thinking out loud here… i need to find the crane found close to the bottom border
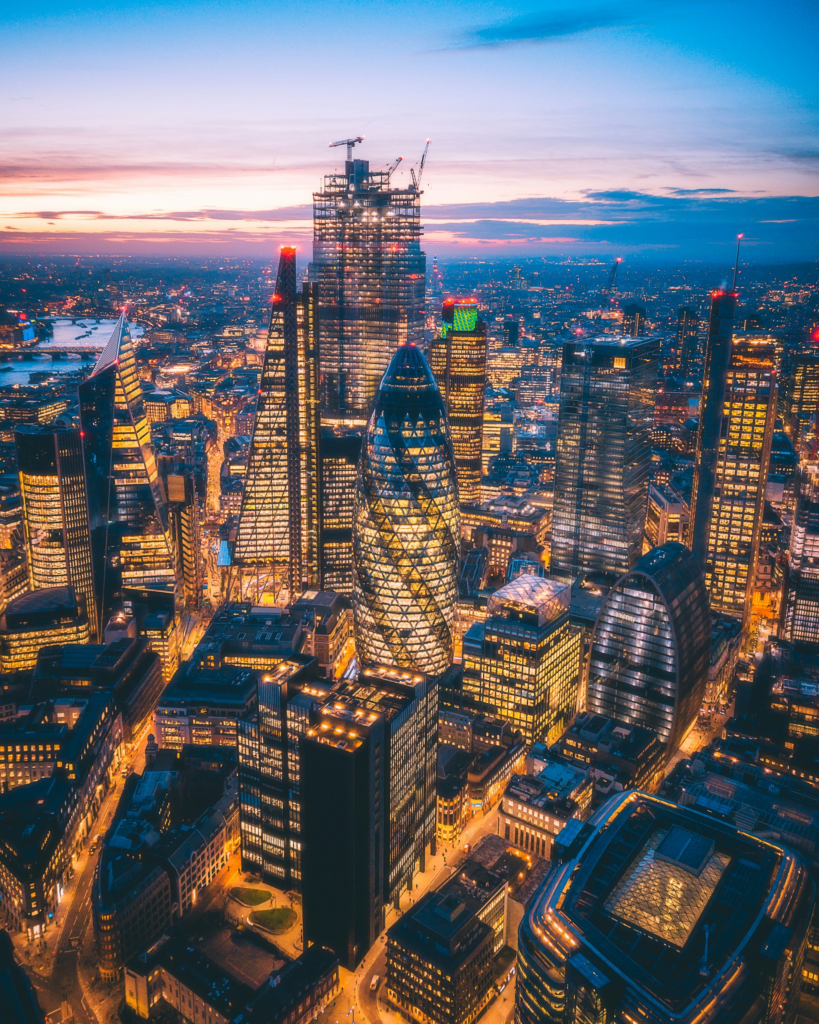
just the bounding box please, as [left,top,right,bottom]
[694,921,718,982]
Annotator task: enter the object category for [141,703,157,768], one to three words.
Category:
building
